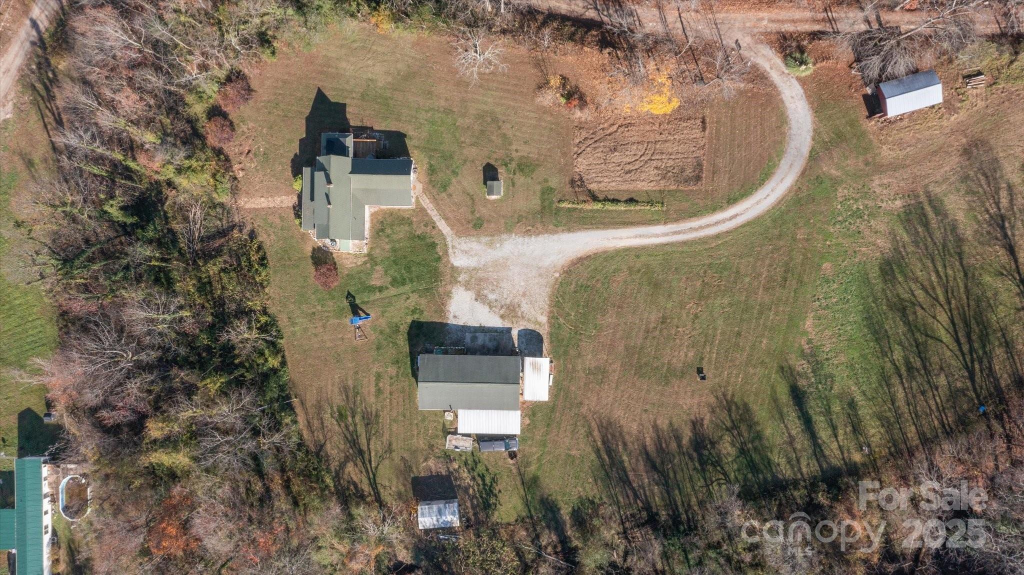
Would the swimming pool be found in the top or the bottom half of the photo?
bottom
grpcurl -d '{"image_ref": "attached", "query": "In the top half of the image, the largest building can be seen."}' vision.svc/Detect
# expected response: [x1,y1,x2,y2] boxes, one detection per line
[301,132,416,241]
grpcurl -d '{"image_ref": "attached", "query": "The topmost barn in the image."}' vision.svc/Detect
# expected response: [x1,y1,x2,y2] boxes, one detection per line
[867,69,943,126]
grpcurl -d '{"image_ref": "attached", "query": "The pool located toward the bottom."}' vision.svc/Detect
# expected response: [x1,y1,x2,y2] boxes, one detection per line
[54,475,90,524]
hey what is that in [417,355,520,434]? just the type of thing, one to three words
building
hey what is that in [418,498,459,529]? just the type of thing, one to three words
shed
